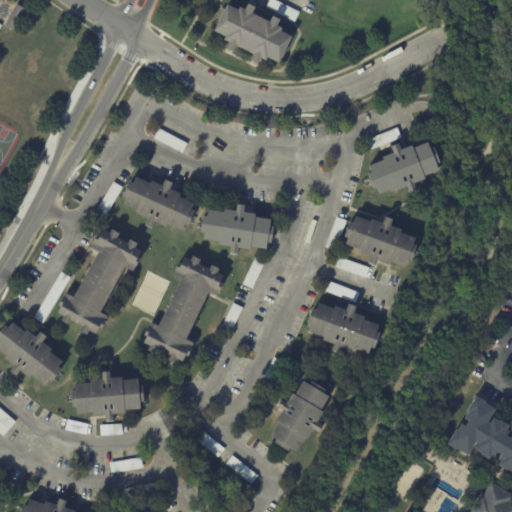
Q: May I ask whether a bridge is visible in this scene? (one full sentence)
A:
No, there is no bridge in the image.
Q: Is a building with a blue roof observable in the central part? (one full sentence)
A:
No, there is no building with a blue roof in the central part.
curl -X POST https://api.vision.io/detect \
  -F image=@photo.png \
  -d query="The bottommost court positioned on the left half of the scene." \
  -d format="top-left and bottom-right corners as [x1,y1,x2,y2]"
[132,270,170,316]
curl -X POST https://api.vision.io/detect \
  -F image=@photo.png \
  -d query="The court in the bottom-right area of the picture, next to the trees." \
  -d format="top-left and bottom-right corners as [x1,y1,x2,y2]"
[397,464,424,500]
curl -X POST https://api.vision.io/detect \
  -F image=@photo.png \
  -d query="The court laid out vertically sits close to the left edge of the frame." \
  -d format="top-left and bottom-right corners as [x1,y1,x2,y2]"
[0,120,24,175]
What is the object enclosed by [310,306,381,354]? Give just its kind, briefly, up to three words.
building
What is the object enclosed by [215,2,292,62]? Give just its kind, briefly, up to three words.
building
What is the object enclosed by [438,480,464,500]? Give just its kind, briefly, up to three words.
swimming pool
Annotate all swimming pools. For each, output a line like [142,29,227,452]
[438,480,464,500]
[437,497,458,512]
